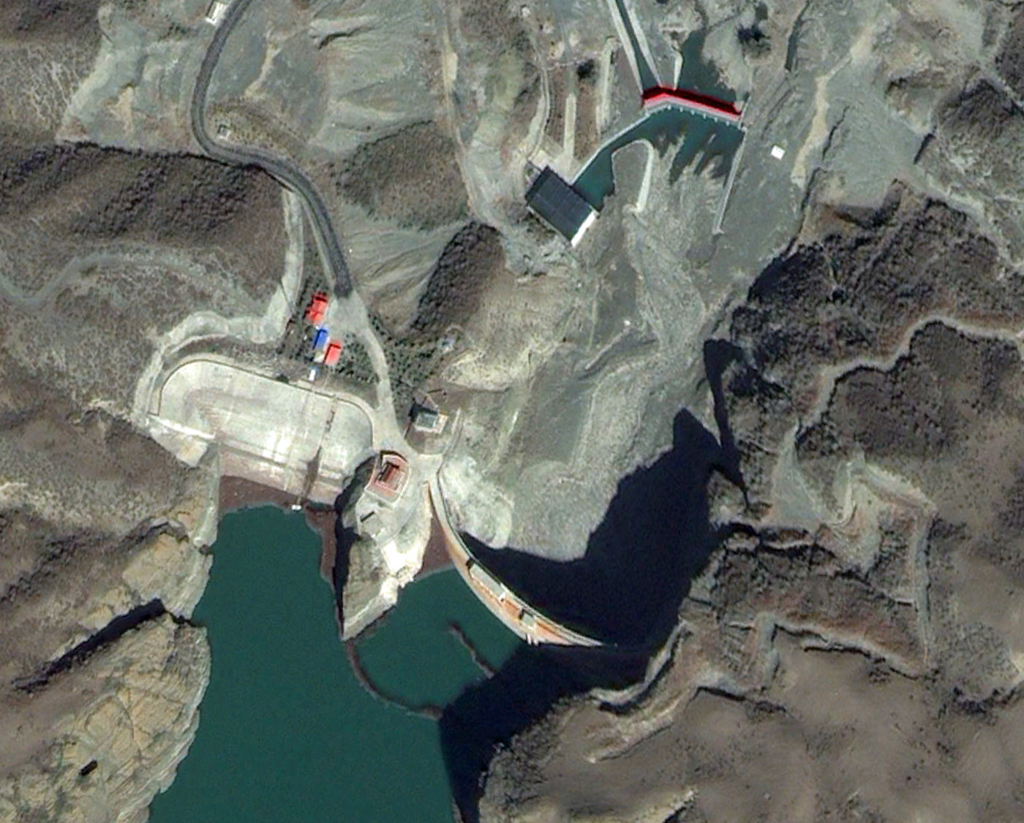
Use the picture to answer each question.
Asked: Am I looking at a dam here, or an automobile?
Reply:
dam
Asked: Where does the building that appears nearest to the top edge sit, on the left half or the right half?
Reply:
left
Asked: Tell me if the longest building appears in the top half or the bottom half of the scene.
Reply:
top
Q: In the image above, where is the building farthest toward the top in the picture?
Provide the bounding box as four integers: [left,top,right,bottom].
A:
[205,1,228,26]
